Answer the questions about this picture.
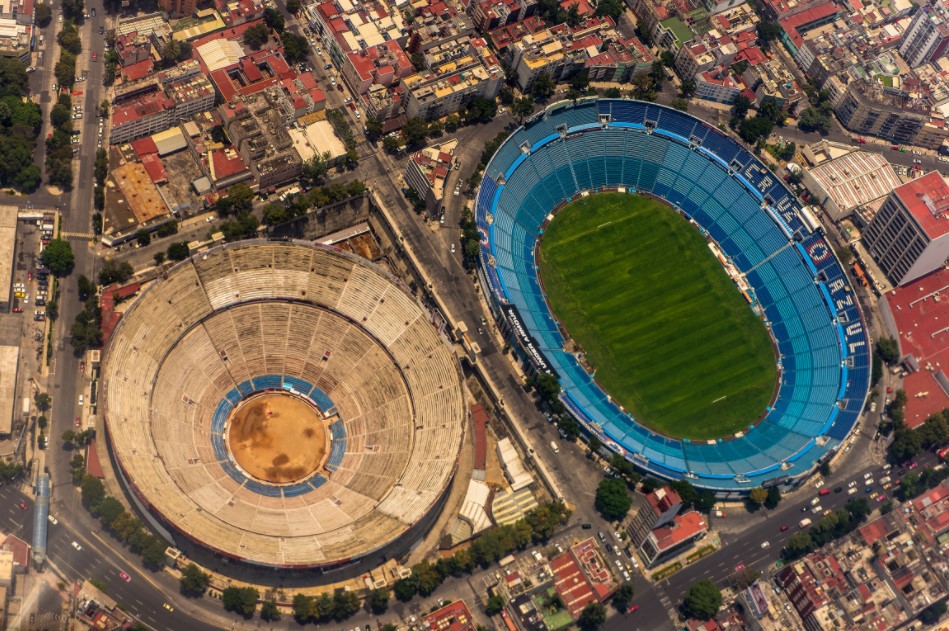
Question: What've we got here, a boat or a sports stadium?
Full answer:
It is a sports stadium that can be seen here.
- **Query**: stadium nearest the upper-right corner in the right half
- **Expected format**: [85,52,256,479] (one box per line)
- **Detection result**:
[472,91,870,500]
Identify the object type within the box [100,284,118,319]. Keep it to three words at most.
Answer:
shed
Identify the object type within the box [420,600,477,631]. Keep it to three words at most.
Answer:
building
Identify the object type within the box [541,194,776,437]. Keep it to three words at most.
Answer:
sports field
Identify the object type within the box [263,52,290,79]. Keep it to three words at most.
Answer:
house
